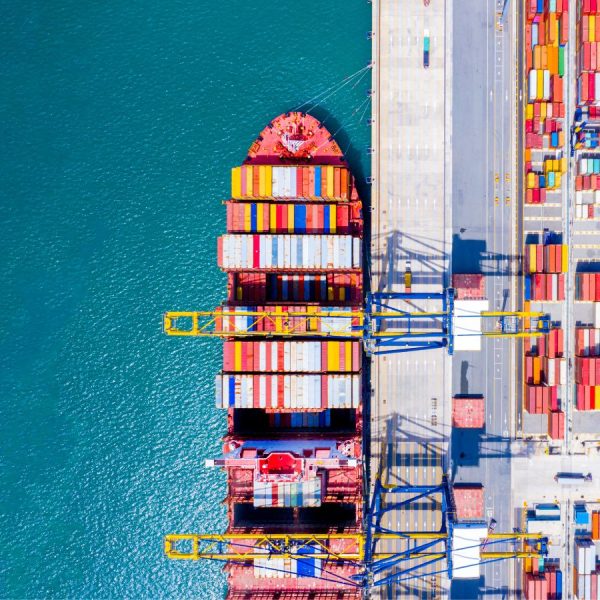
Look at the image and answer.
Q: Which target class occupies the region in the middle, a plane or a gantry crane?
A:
gantry crane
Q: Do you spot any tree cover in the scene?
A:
No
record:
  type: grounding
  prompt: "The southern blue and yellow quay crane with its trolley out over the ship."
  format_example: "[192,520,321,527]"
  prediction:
[164,474,550,591]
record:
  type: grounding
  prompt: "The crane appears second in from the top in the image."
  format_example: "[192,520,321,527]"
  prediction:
[165,287,550,362]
